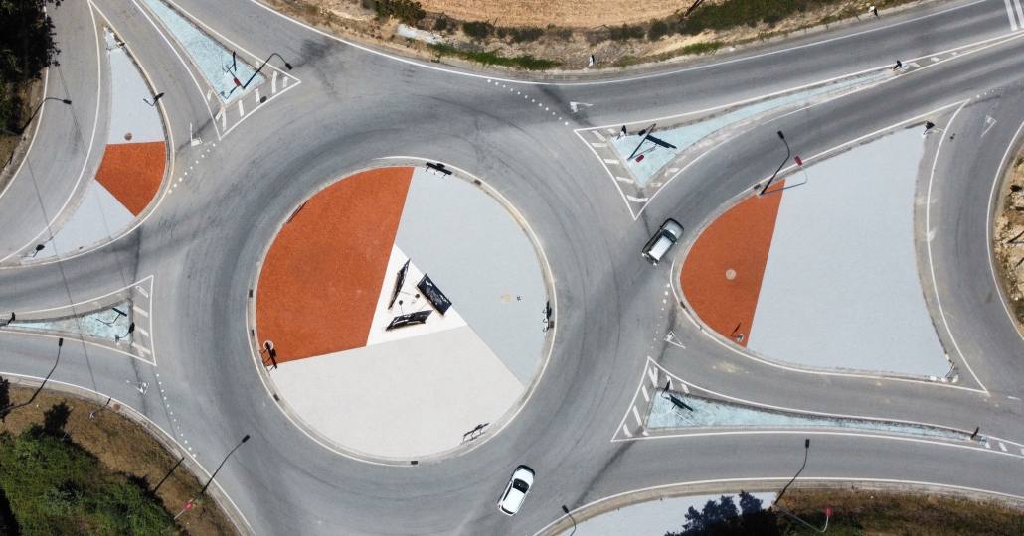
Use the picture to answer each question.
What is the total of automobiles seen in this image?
2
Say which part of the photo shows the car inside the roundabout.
bottom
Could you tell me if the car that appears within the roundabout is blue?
No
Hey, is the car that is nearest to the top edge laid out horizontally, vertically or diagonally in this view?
diagonally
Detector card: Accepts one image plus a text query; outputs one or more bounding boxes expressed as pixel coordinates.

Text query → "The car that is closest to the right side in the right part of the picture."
[642,219,687,267]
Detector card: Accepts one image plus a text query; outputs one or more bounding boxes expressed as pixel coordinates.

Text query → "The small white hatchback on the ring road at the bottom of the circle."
[498,469,534,521]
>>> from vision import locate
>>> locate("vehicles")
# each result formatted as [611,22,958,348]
[642,219,687,267]
[498,469,534,521]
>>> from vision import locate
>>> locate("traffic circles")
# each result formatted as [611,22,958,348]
[157,65,646,536]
